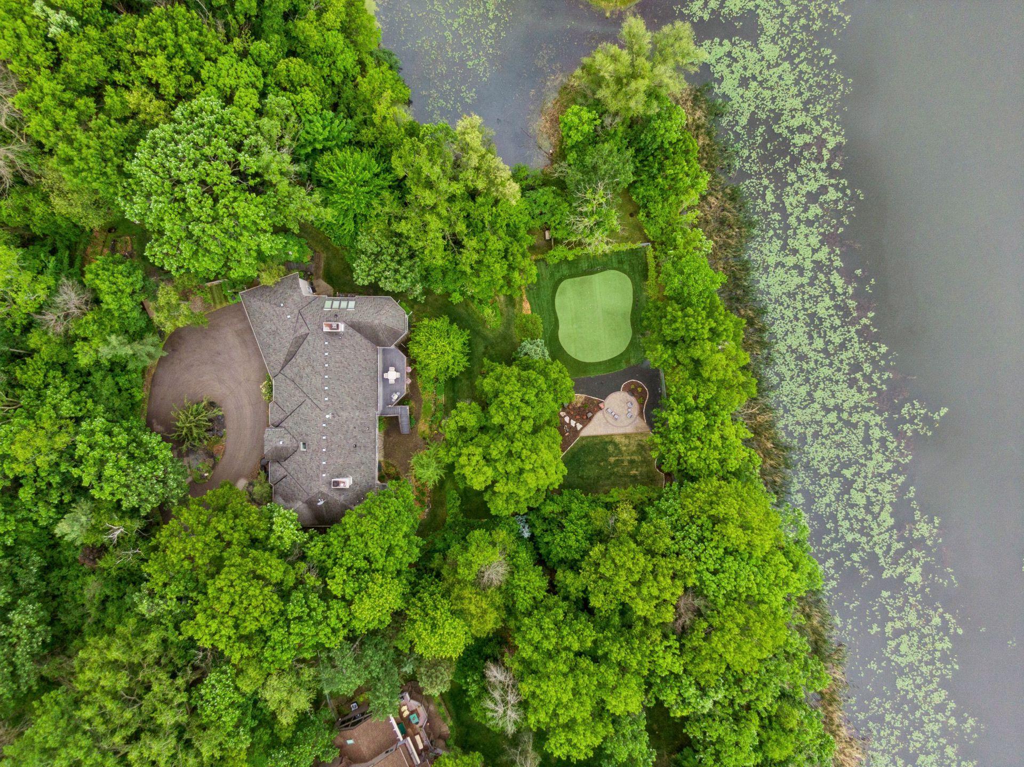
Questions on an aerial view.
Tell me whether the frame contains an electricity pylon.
No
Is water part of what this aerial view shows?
Yes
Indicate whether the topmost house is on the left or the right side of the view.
left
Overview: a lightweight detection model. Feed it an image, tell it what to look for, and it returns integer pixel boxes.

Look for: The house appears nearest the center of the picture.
[239,272,409,527]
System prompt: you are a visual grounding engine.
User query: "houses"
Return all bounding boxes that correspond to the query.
[324,702,430,767]
[239,272,409,527]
